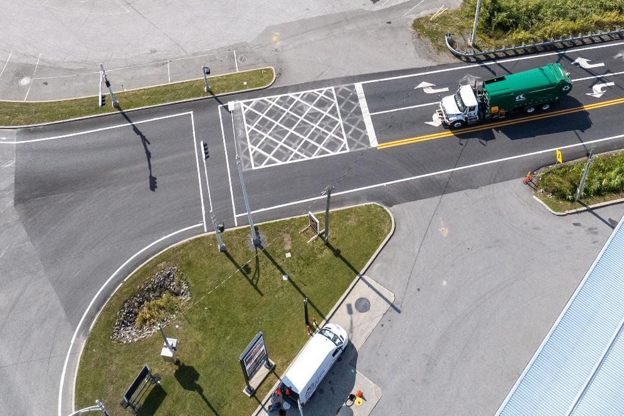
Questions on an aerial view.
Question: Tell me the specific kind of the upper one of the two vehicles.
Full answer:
I'd say the upper one of the two vehicles is a truck.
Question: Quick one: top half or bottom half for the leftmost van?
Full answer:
You can find the leftmost van in the bottom half.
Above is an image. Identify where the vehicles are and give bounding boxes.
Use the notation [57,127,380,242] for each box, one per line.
[434,61,582,129]
[269,326,355,416]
